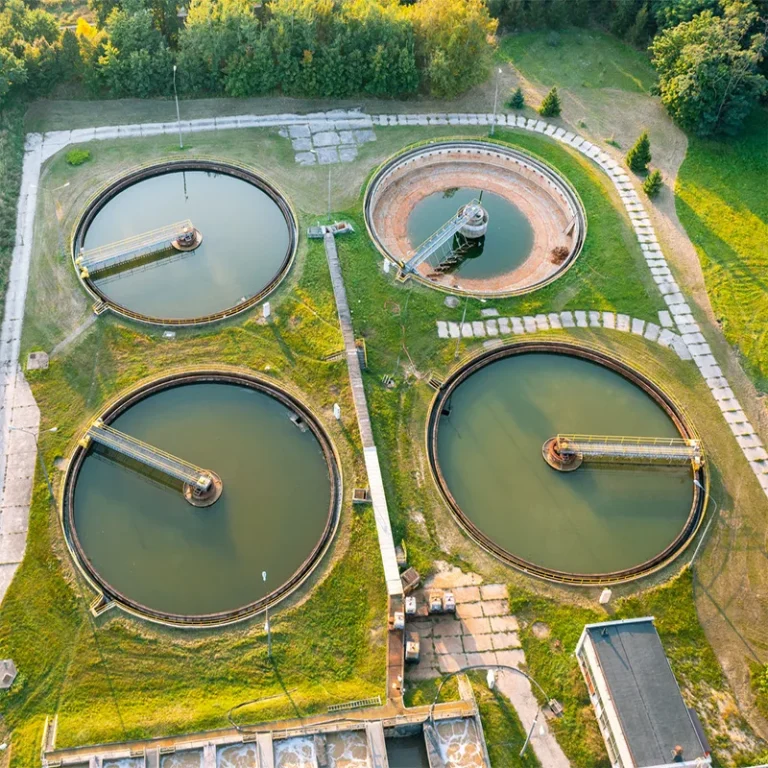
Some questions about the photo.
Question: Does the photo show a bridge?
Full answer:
Yes, the photo shows a bridge.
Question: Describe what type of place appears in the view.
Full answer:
The area seen from above is an industrial area.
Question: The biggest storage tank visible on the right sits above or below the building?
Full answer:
You can see the biggest storage tank visible on the right above the building in the frame.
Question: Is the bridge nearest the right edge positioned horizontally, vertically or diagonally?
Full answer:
The bridge nearest the right edge runs horizontally in the image.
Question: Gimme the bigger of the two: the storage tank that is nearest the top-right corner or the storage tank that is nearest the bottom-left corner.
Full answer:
The storage tank that is nearest the top-right corner is smaller than the storage tank that is nearest the bottom-left corner.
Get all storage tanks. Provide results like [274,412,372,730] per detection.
[363,135,586,301]
[424,337,707,589]
[71,155,297,328]
[61,365,342,630]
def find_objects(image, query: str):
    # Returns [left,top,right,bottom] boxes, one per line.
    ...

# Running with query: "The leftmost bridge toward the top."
[74,221,191,273]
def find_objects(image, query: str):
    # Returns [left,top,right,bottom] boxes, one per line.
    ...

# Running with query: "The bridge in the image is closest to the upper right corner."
[397,198,484,278]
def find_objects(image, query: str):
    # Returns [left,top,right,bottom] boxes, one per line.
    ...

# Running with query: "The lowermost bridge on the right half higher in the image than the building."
[557,436,703,471]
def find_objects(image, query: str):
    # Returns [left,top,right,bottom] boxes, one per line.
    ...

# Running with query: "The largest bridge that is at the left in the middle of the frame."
[81,418,211,493]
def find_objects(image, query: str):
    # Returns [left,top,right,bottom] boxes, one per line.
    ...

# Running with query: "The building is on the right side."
[573,616,715,768]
